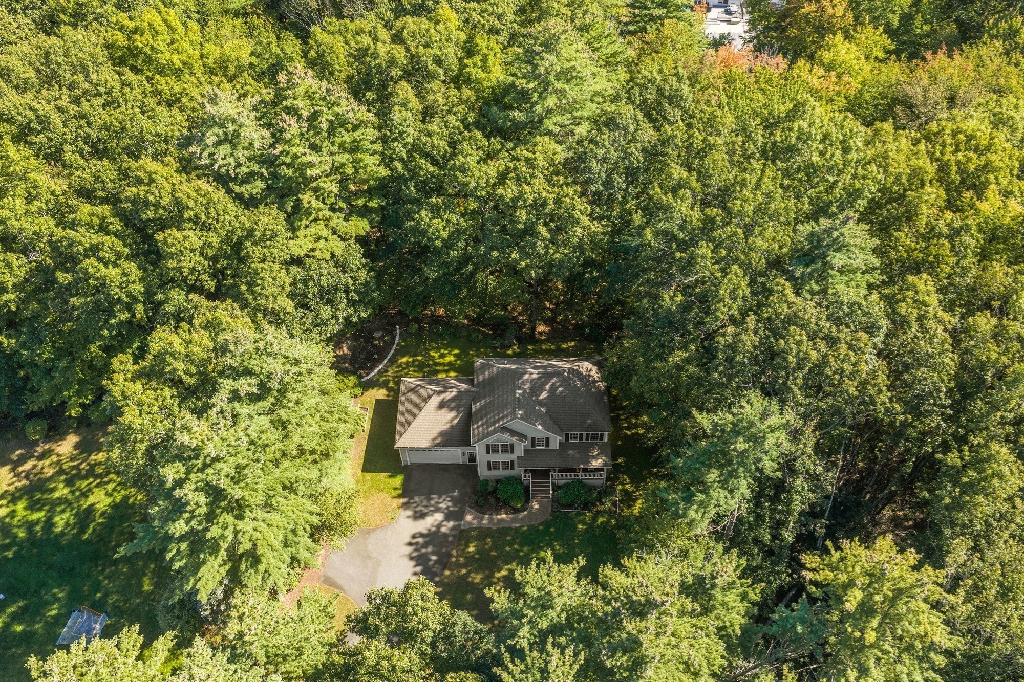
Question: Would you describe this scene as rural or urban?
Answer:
rural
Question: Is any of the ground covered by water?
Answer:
No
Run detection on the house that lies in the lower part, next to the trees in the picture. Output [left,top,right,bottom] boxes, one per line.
[393,356,612,500]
